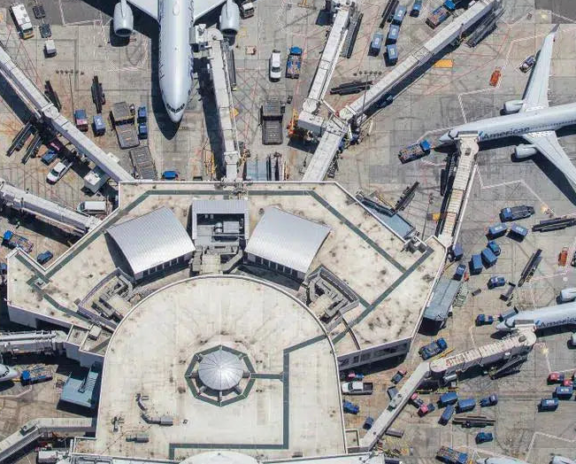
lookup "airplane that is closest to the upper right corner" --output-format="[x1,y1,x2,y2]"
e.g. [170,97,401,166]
[439,21,576,187]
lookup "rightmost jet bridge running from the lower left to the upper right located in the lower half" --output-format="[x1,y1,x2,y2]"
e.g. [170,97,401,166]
[359,319,541,453]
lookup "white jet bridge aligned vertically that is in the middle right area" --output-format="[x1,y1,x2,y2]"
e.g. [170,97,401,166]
[436,127,481,264]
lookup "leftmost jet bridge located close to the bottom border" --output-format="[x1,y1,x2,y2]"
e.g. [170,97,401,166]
[0,417,97,464]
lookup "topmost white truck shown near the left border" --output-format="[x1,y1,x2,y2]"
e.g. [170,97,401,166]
[9,0,35,42]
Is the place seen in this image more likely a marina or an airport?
airport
